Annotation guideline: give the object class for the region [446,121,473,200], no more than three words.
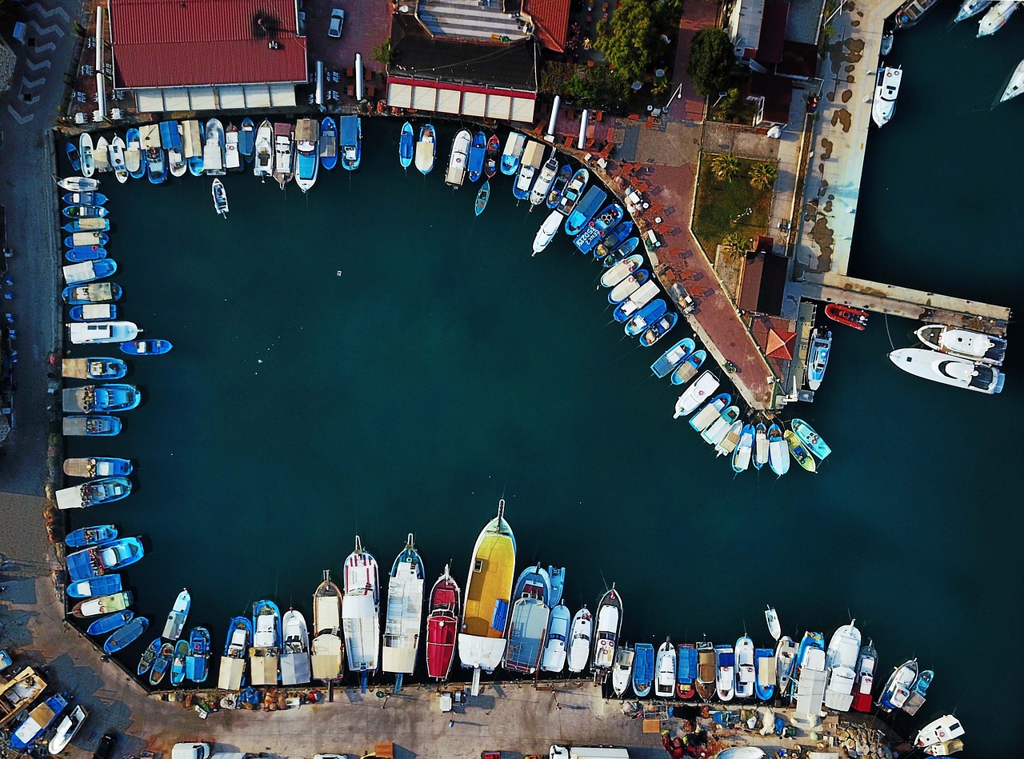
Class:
boat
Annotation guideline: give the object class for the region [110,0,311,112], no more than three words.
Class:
building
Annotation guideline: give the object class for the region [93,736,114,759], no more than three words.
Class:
car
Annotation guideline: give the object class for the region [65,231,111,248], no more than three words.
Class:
boat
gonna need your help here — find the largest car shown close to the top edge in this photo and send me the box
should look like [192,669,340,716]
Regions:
[327,5,345,36]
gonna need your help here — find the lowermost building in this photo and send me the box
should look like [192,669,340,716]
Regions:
[762,328,797,360]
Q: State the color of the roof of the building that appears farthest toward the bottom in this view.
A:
red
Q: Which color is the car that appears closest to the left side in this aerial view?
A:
black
